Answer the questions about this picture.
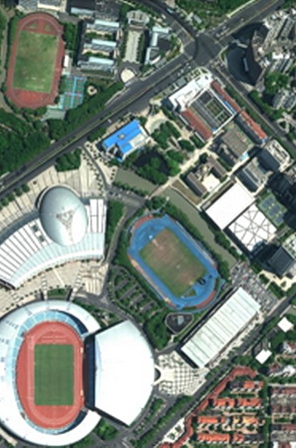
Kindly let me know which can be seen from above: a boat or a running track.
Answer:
running track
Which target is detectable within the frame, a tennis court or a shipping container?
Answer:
tennis court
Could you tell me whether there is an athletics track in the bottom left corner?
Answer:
Yes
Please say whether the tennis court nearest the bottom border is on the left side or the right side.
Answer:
right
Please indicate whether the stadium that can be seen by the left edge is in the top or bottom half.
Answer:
bottom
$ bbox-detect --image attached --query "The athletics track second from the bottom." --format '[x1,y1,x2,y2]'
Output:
[127,215,218,309]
